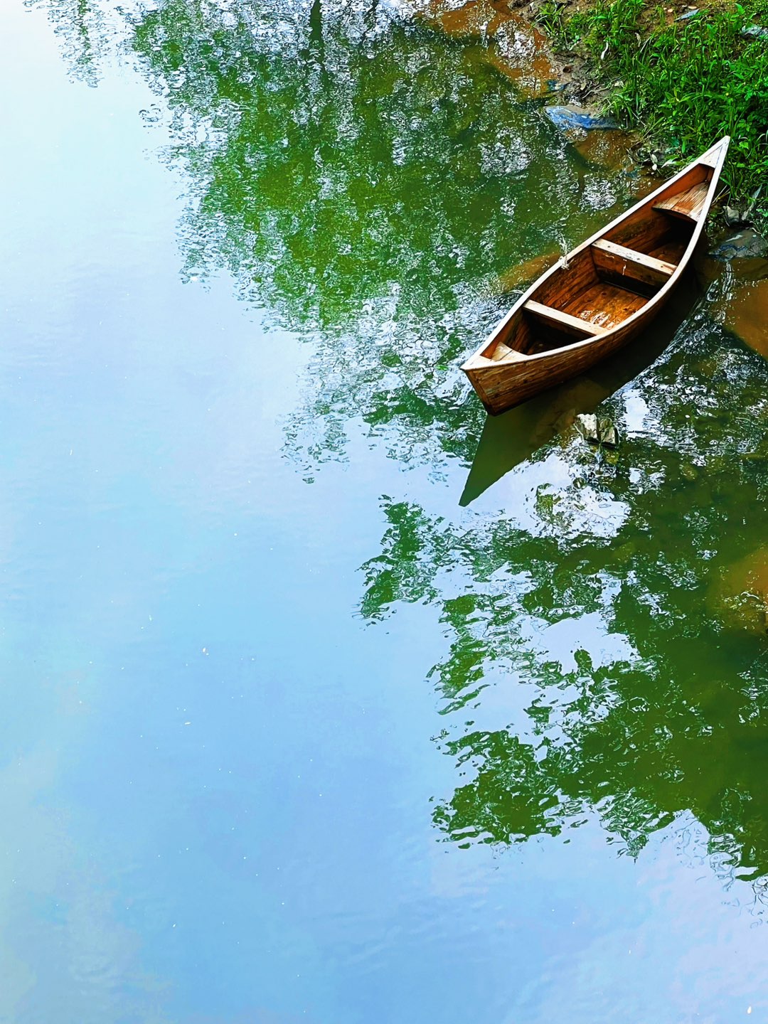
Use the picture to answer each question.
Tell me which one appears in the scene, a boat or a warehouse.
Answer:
boat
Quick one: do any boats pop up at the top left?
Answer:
No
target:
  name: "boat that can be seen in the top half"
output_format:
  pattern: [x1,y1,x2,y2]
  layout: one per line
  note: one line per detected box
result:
[461,136,727,425]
